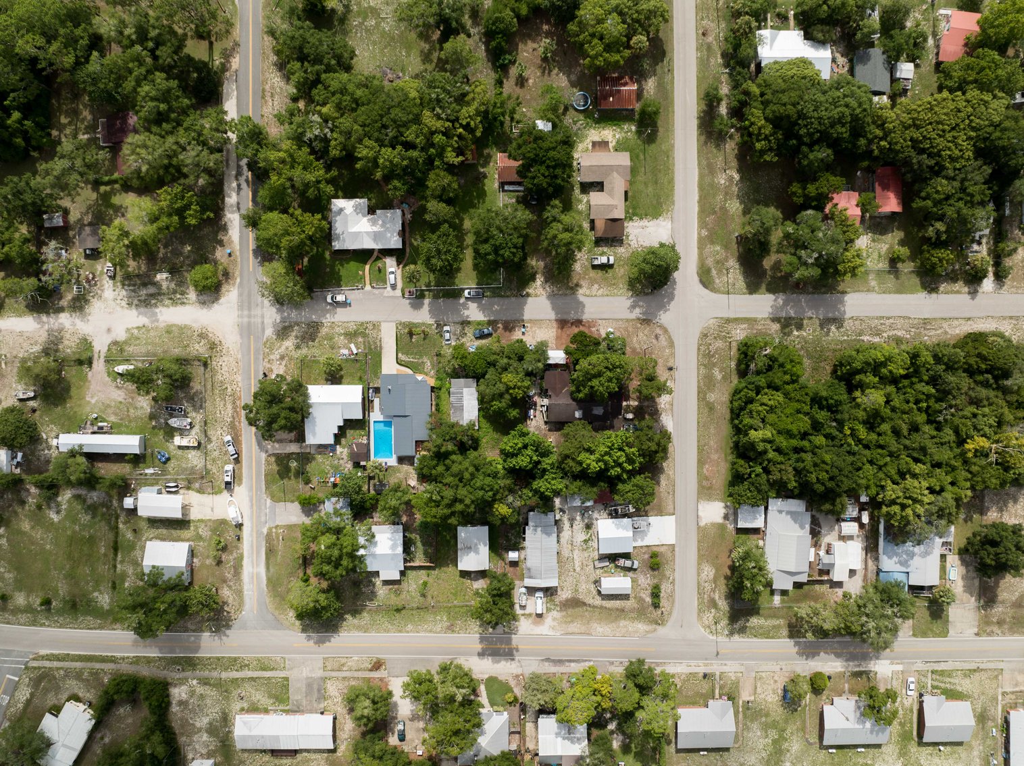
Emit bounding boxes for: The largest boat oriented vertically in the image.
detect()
[229,497,241,528]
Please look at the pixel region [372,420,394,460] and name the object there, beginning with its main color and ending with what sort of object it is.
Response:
blue swimming pool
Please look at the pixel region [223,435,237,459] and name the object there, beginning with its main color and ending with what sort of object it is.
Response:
white car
